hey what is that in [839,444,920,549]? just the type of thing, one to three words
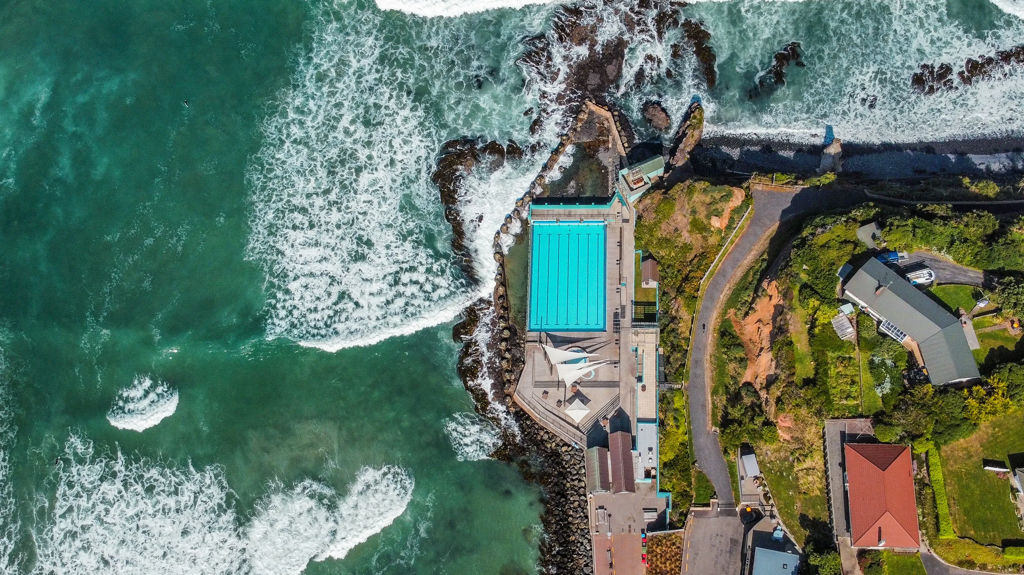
house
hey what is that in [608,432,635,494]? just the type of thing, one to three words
building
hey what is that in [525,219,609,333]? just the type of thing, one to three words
swimming pool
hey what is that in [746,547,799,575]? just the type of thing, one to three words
house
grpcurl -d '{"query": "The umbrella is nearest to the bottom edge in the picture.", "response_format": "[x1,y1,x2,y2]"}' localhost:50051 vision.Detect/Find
[564,398,590,424]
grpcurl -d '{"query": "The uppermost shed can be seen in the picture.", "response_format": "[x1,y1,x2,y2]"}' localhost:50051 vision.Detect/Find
[617,154,665,204]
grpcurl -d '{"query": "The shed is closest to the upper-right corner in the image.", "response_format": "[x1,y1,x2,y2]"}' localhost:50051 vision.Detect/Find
[856,222,881,243]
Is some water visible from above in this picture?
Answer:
Yes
